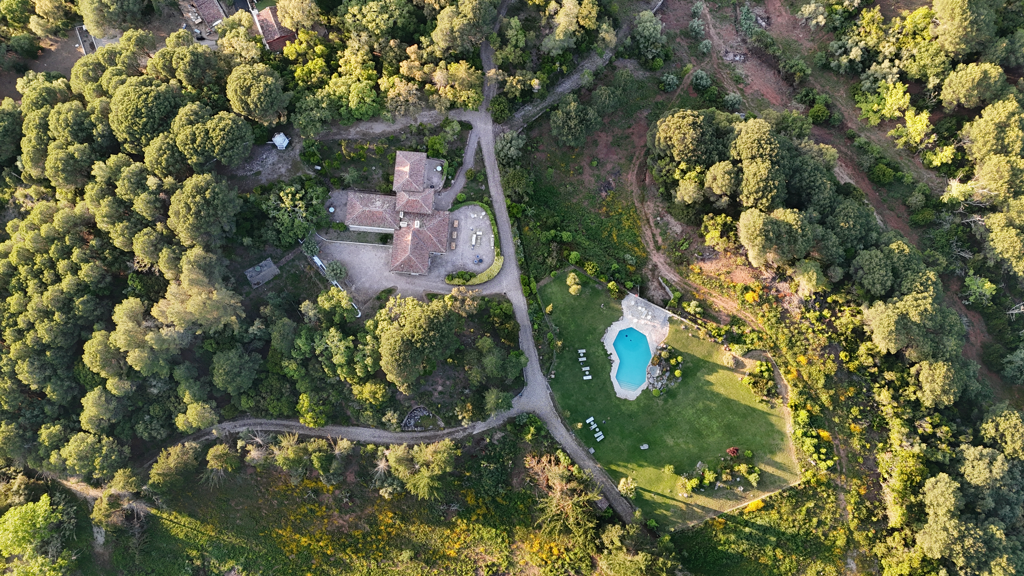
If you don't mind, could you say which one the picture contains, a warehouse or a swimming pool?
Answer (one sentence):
There is a swimming pool in the scene.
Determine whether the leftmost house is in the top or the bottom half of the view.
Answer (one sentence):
The leftmost house sits in the top half of the picture.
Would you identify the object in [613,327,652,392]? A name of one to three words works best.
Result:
swimming pool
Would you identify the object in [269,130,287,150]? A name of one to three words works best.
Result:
gazebo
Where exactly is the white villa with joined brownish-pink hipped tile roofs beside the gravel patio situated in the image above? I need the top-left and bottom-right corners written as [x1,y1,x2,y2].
[345,150,450,276]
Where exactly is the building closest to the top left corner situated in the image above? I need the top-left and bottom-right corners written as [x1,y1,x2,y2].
[195,0,229,34]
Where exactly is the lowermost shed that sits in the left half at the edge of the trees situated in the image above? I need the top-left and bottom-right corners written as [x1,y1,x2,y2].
[244,258,282,290]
